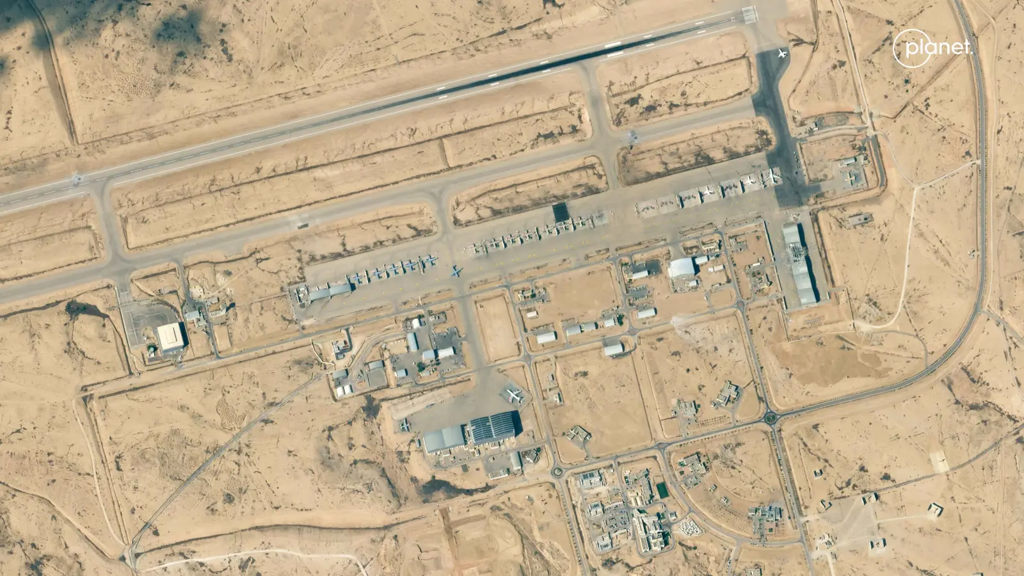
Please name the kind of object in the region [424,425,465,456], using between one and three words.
hangar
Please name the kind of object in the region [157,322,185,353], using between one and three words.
hangar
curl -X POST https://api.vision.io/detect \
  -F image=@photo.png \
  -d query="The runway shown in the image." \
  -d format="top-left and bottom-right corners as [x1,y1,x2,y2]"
[0,0,788,219]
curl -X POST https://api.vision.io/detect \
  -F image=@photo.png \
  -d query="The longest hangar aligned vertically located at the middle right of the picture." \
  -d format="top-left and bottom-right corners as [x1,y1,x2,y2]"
[782,223,817,307]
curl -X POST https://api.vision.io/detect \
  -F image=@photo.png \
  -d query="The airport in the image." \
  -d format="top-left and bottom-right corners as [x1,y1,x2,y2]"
[0,0,868,432]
